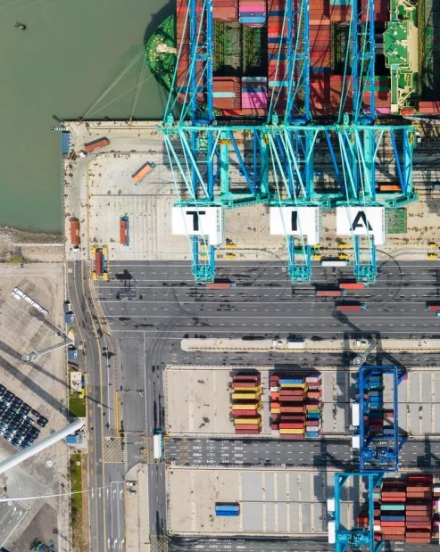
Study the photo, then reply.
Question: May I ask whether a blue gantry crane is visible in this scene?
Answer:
Yes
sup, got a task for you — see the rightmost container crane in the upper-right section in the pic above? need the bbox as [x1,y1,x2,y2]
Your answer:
[332,0,421,281]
